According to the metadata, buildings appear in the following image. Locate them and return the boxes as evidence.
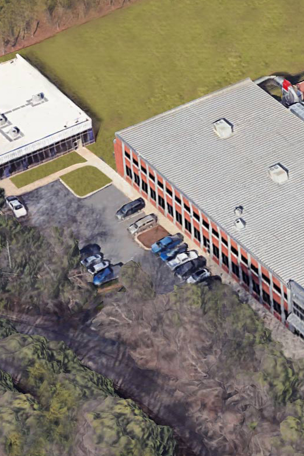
[0,56,93,179]
[113,78,304,343]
